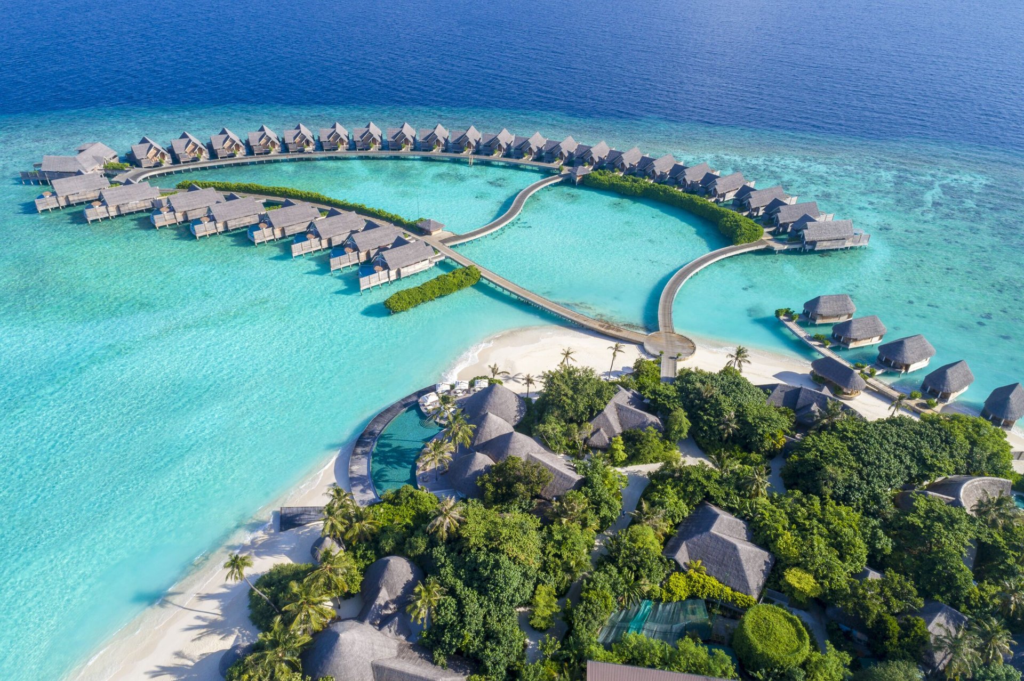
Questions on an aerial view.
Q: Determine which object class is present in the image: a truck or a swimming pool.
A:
swimming pool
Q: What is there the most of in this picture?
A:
water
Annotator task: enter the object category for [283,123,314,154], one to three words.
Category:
house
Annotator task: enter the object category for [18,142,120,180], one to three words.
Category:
house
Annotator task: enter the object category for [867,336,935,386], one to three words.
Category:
shed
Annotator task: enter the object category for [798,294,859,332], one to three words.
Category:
shed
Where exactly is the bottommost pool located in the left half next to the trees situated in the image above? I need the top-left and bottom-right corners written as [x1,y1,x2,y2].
[370,400,444,506]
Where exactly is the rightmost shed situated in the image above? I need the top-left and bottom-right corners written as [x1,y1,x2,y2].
[967,384,1024,433]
